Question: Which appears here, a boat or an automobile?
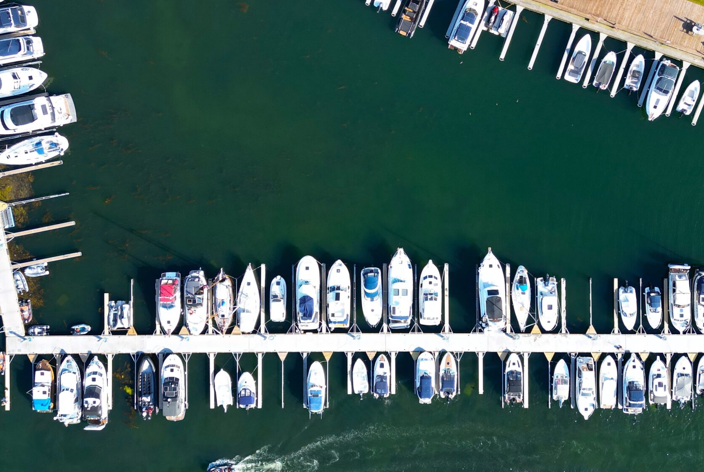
boat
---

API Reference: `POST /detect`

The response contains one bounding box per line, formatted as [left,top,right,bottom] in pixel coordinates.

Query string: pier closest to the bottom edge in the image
[6,334,704,354]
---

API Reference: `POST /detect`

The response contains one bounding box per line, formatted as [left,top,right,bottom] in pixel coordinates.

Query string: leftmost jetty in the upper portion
[484,3,515,39]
